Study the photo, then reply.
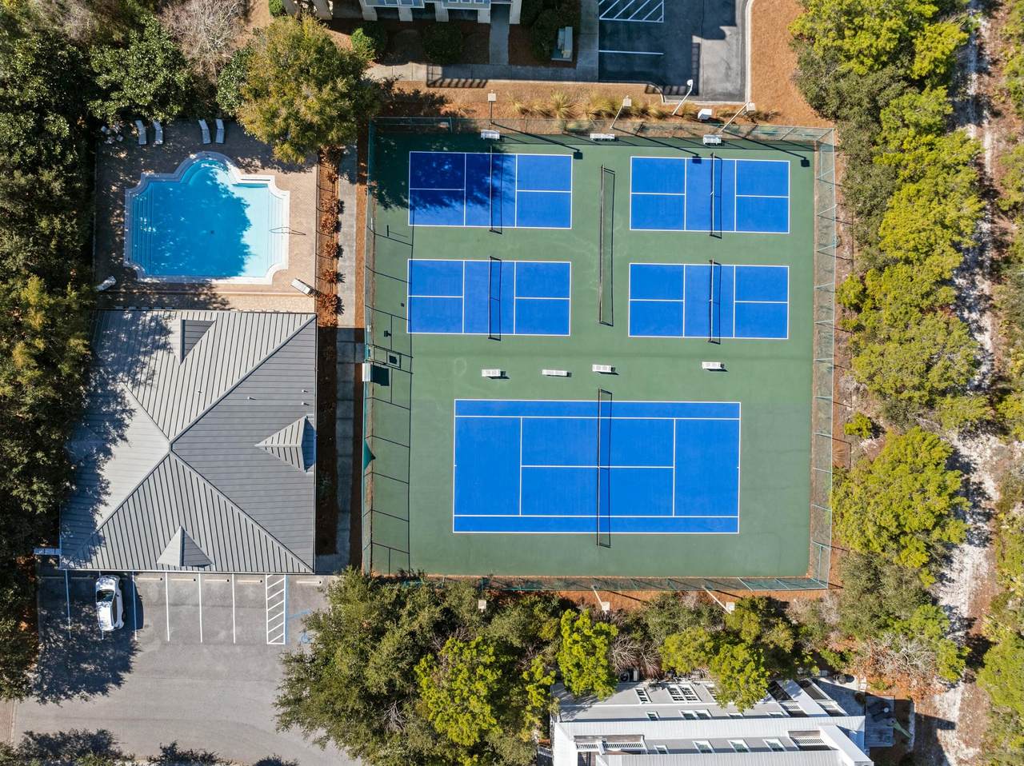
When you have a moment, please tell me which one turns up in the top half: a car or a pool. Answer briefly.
pool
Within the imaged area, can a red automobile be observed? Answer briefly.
No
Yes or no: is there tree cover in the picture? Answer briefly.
Yes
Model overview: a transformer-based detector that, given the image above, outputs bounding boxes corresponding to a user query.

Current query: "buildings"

[272,0,522,22]
[39,309,318,575]
[533,683,874,766]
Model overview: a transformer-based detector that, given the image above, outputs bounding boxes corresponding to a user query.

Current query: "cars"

[92,576,124,631]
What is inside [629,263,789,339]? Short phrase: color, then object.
blue sports court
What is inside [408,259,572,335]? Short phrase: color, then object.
blue sports court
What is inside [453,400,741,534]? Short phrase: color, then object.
blue tennis court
